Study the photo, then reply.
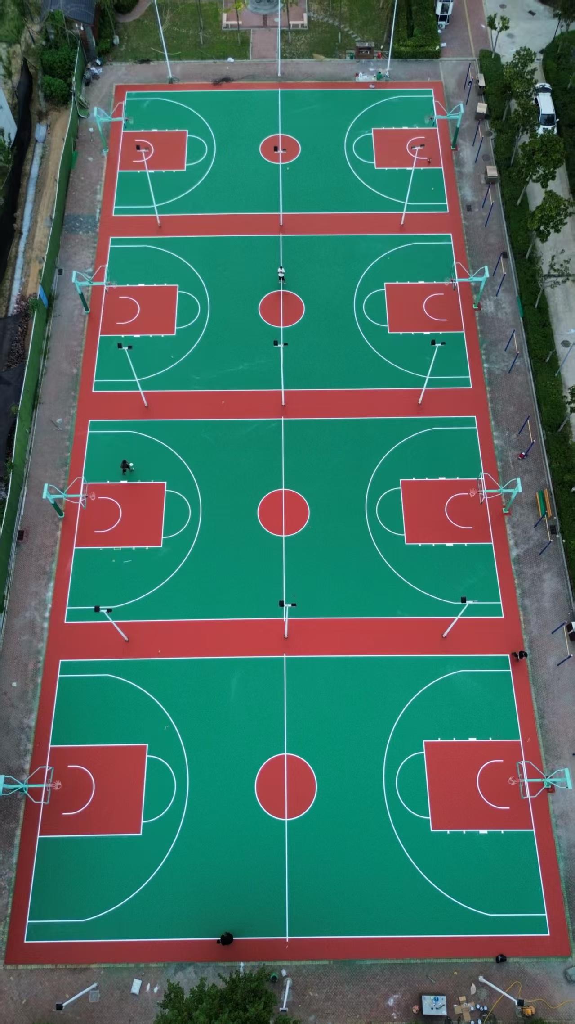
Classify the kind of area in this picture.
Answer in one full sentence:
What you see here is a sports ground.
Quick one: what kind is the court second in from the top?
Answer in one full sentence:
From above, the court second in from the top can be identified as a basketball court.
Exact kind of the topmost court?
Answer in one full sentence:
What you see as the topmost court is a basketball court.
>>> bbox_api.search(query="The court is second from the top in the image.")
[91,233,473,391]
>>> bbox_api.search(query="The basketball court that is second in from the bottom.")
[64,415,505,622]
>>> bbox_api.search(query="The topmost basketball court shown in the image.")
[112,89,449,215]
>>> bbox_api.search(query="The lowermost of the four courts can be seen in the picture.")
[26,653,549,942]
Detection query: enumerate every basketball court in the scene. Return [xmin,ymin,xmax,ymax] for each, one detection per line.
[112,89,449,215]
[64,415,505,622]
[26,653,549,942]
[91,233,473,391]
